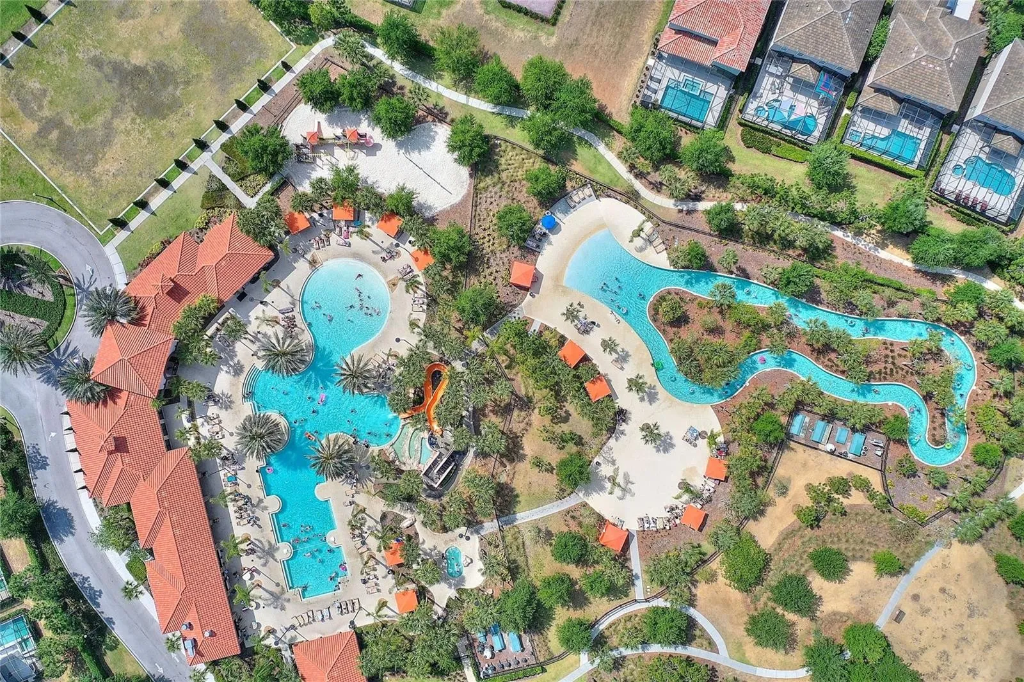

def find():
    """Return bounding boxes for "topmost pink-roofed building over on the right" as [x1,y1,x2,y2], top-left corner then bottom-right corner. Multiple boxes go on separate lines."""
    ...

[658,0,774,79]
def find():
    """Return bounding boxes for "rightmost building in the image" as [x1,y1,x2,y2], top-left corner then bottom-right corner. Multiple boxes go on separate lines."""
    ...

[949,37,1024,157]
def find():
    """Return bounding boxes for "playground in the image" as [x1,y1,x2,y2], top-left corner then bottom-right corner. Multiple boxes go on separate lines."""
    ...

[296,123,375,161]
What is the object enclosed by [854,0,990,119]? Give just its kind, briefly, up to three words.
house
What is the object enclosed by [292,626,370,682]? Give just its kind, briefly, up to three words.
building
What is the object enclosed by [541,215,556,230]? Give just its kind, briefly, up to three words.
umbrella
